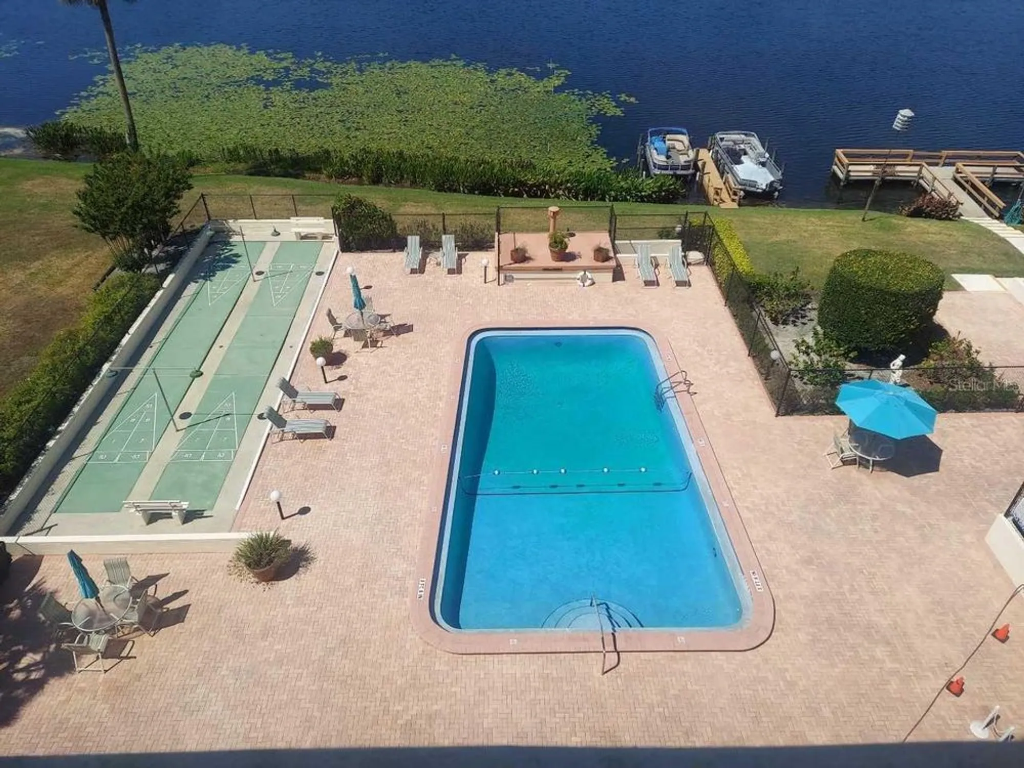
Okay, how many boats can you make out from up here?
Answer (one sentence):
I count 2 boats.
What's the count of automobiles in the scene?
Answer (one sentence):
There are no automobiles in the image.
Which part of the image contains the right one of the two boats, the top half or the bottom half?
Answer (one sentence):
The right one of the two boats is in the top half of the image.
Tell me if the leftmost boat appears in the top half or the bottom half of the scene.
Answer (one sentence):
The top half of the photo is where the leftmost boat is.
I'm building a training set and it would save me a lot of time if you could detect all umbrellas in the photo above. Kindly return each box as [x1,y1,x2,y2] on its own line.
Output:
[350,272,369,330]
[62,549,124,637]
[833,378,939,468]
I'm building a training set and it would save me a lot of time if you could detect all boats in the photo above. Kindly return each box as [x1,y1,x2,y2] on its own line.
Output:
[700,130,788,196]
[643,120,697,180]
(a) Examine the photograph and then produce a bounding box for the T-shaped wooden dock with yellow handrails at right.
[826,147,1024,227]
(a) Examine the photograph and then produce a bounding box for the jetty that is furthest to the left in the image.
[691,145,739,205]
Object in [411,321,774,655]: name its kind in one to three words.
swimming pool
